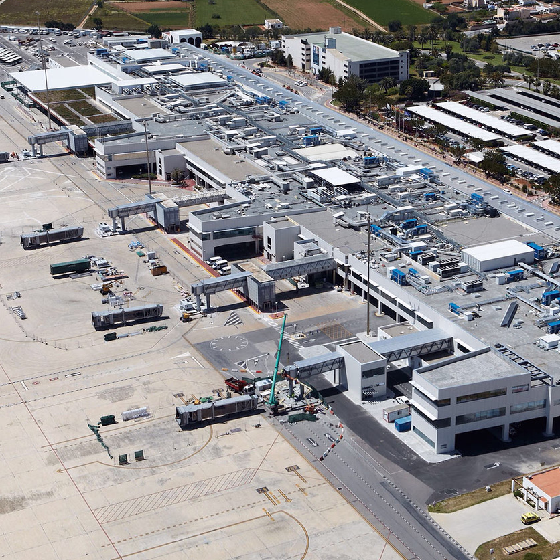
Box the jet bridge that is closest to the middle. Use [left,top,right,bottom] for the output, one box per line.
[183,254,338,321]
